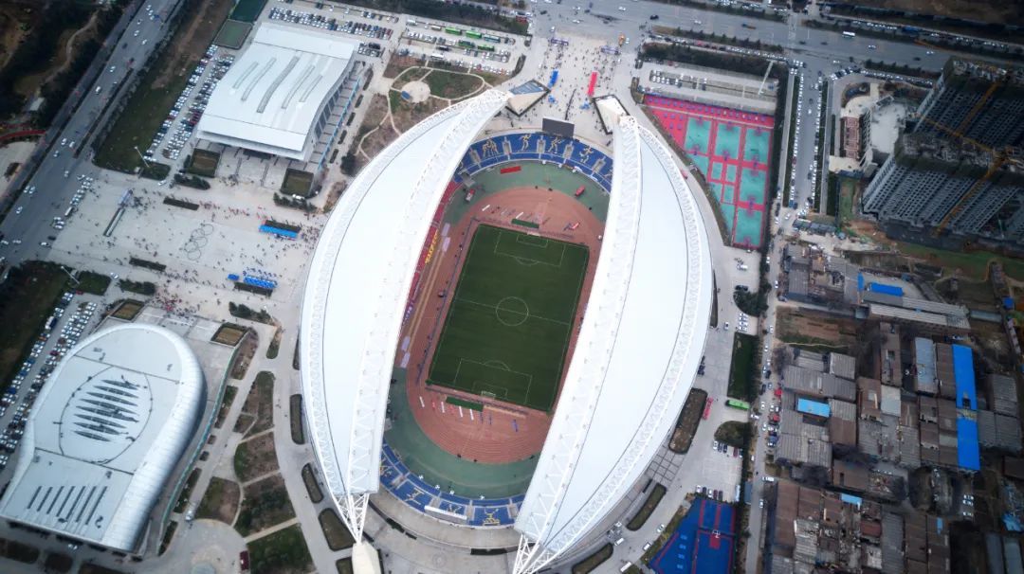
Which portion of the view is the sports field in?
center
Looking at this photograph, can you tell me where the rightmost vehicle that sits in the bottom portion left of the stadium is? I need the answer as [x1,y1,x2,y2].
[235,546,251,573]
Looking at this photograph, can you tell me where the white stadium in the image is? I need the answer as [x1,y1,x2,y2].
[299,78,713,574]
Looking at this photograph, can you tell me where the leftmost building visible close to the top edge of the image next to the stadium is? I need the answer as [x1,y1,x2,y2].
[197,23,364,173]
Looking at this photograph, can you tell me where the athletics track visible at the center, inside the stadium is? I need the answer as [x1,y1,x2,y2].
[385,160,610,506]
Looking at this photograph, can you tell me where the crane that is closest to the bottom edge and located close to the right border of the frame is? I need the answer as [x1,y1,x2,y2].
[917,116,1024,233]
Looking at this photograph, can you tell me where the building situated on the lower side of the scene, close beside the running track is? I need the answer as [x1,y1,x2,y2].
[0,305,250,562]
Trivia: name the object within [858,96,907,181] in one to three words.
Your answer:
building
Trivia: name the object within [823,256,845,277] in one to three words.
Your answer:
house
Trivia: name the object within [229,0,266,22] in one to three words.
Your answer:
tennis court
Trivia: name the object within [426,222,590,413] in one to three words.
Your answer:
sports field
